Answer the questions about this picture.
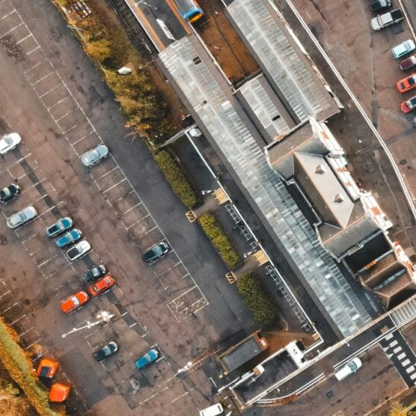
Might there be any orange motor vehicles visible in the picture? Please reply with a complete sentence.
Yes, looking at the shot, I can spot an orange motor vehicle.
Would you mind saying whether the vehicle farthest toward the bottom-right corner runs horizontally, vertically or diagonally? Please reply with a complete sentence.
I'd say the vehicle farthest toward the bottom-right corner is aligned diagonally in the picture.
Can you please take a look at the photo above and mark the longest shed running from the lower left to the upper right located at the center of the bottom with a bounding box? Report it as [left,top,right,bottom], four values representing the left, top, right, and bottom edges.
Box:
[218,326,275,373]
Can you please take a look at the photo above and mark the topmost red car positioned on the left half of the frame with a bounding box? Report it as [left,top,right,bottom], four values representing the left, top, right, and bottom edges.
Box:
[87,274,119,297]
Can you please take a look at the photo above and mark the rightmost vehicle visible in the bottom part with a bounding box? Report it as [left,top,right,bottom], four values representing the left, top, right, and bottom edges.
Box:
[332,357,365,384]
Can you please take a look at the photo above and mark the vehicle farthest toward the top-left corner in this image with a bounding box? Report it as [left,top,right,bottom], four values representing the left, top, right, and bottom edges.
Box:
[0,132,26,155]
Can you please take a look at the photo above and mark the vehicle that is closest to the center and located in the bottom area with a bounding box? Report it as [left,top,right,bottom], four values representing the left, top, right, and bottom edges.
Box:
[140,239,172,264]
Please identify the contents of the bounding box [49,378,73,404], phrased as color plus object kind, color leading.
orange vehicle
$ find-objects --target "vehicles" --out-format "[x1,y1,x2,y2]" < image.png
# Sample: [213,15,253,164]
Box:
[38,355,61,380]
[63,239,94,263]
[0,183,24,204]
[0,132,26,155]
[4,204,41,230]
[54,227,86,249]
[332,357,365,384]
[81,263,110,284]
[132,345,164,371]
[389,40,416,60]
[58,289,92,316]
[399,95,416,114]
[368,0,394,14]
[44,215,77,238]
[369,9,405,32]
[195,398,231,416]
[398,53,416,72]
[396,73,416,94]
[80,143,113,169]
[49,378,73,404]
[140,239,172,264]
[87,274,119,297]
[91,340,122,362]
